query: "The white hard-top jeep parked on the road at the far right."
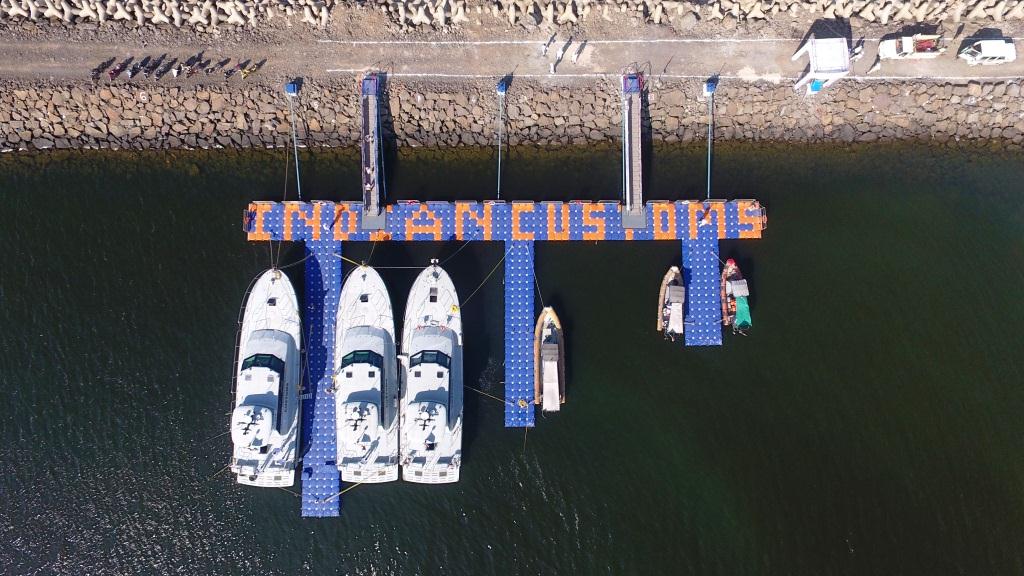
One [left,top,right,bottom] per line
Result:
[954,38,1016,68]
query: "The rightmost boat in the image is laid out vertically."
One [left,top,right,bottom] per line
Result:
[719,259,751,333]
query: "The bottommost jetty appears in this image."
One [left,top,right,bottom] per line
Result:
[244,198,767,518]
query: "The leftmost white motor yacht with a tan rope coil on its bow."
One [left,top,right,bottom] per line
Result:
[229,261,304,487]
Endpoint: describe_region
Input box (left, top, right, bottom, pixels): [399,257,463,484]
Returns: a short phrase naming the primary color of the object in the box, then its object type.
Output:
white boat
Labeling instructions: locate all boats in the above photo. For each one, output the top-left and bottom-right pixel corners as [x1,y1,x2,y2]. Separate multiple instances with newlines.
[229,261,304,487]
[399,257,463,484]
[333,258,399,483]
[533,308,565,412]
[655,266,688,337]
[719,259,751,333]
